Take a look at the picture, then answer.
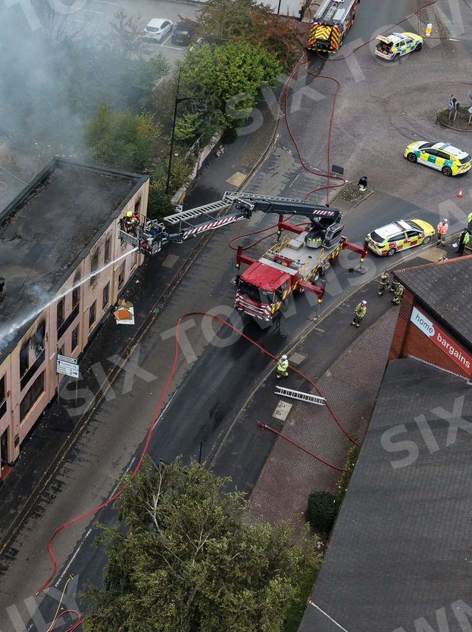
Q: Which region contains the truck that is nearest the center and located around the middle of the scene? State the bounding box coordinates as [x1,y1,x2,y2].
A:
[124,185,368,327]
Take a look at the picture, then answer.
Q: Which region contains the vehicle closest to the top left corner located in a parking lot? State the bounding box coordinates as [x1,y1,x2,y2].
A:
[136,14,174,41]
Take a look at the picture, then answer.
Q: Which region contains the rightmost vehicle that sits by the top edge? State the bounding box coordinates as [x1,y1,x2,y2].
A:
[375,30,427,61]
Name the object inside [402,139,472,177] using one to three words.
car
